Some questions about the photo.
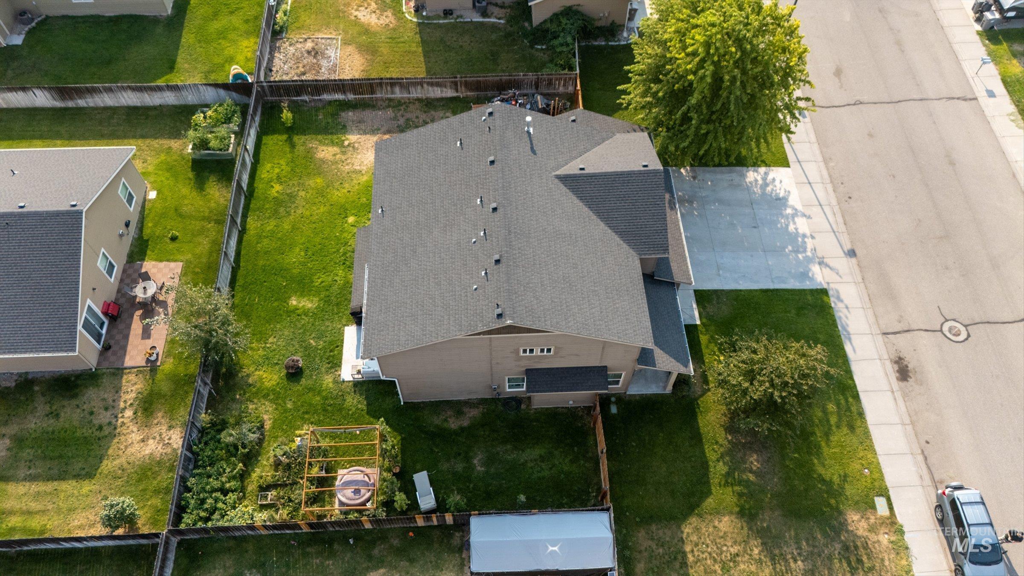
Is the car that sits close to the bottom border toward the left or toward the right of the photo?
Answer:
right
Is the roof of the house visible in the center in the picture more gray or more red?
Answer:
gray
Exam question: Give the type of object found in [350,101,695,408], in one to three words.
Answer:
house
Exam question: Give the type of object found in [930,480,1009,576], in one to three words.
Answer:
car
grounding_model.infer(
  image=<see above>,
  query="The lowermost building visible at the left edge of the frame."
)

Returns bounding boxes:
[0,147,146,373]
